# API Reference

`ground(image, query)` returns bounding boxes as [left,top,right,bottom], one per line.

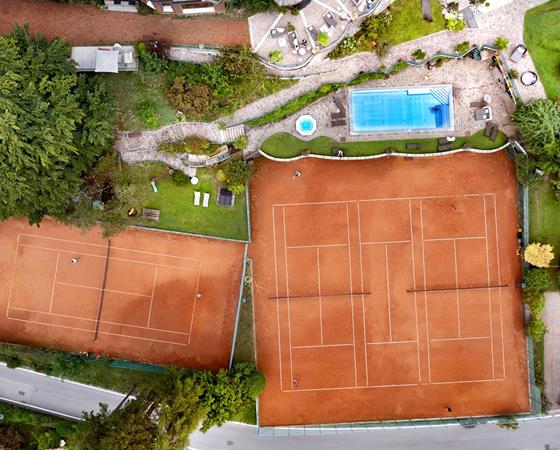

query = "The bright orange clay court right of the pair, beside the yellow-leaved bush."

[407,145,531,418]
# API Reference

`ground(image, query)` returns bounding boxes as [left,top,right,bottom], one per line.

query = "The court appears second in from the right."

[355,156,422,421]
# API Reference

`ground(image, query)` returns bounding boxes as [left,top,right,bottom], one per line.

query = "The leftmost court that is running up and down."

[250,154,370,427]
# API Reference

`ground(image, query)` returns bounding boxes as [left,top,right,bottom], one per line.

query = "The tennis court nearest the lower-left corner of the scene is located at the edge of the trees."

[0,218,248,369]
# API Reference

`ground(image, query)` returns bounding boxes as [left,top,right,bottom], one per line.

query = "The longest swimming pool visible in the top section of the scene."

[349,85,454,136]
